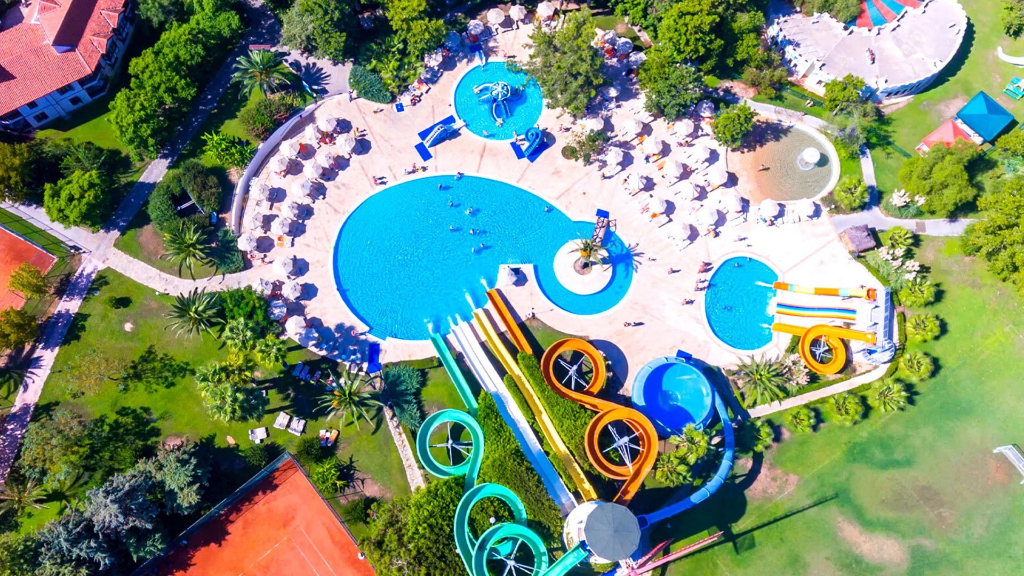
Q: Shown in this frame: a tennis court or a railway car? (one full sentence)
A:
Visible in the photo is a tennis court.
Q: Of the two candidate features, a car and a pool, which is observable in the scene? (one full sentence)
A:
Visible in the photo is a pool.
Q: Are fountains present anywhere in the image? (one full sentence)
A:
Yes, a fountain can be made out from above.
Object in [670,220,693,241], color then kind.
white umbrella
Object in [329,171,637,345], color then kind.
blue swimming pool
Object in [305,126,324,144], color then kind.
white umbrella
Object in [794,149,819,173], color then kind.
white fountain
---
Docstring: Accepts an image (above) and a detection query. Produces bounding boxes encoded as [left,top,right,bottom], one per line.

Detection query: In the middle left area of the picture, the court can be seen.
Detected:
[0,224,56,314]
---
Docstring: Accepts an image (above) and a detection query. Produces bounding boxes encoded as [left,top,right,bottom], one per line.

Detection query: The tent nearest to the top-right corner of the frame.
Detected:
[951,91,1012,149]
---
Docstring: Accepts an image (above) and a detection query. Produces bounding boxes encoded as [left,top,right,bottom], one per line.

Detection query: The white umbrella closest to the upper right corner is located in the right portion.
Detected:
[795,199,818,222]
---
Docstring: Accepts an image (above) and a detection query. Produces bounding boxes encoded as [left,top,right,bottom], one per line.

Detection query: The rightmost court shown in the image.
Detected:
[137,460,374,576]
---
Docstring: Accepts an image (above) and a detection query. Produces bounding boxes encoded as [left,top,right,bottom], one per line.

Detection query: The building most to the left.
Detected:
[0,0,142,135]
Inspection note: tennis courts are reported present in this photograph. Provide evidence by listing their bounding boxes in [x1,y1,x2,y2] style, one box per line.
[0,224,56,314]
[137,460,374,576]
